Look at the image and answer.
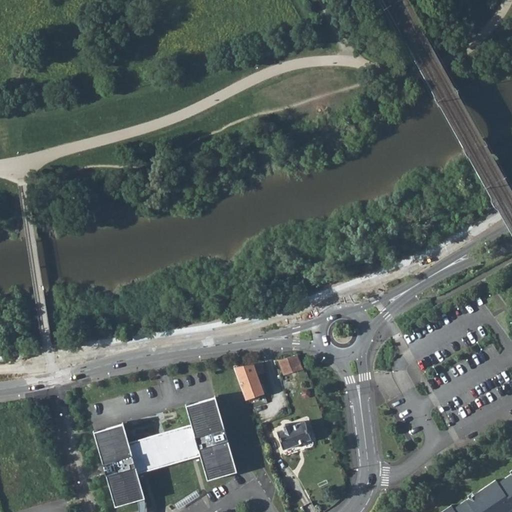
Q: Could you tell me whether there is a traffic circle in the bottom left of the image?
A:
No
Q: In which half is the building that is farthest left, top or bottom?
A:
bottom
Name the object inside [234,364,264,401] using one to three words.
house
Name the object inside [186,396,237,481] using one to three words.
building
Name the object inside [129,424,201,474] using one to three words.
building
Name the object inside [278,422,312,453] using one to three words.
house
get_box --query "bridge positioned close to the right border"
[389,0,512,236]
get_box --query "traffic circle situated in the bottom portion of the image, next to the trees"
[314,306,371,362]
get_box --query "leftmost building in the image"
[94,422,145,508]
